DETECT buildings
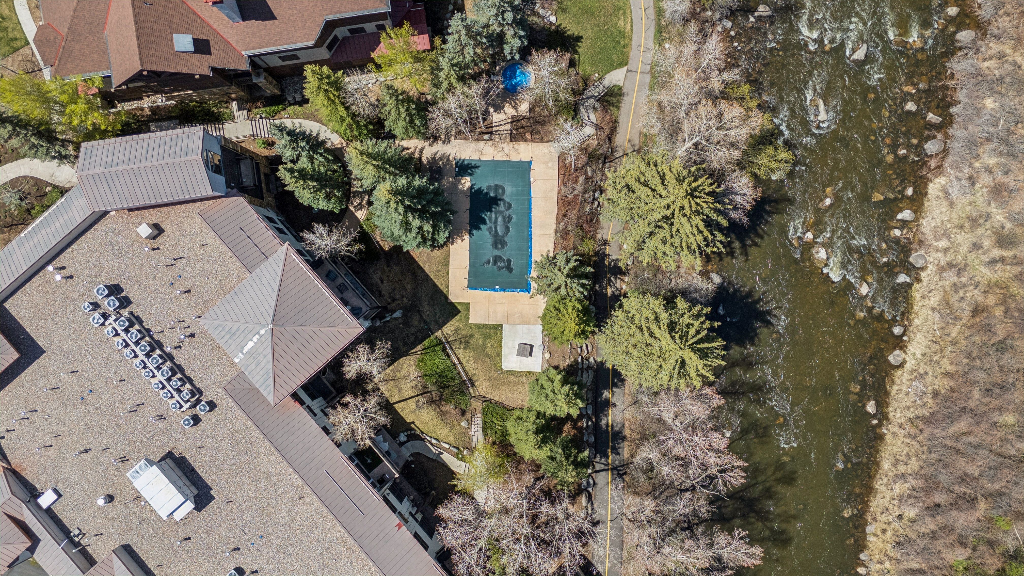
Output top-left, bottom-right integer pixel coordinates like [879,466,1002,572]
[33,0,429,97]
[0,125,470,576]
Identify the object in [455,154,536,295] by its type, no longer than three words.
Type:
swimming pool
